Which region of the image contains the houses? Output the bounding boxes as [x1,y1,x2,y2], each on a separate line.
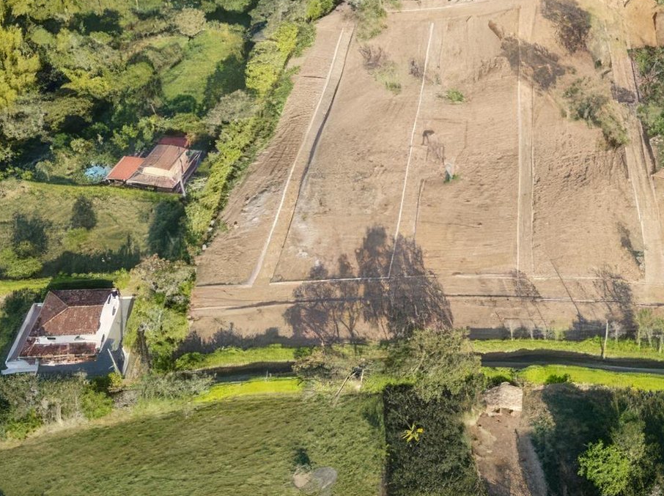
[106,136,201,198]
[3,288,125,380]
